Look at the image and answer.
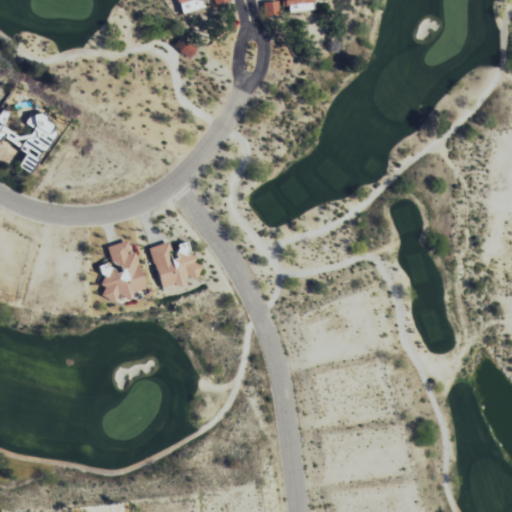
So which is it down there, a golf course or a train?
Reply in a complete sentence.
This aerial view contains a golf course.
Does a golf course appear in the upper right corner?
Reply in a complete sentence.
Yes, a golf course is visible in the upper right corner.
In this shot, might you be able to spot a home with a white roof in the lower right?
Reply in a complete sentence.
No, no home with a white roof can be made out in the lower right.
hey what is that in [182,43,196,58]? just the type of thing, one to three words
gazebo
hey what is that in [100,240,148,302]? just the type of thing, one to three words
house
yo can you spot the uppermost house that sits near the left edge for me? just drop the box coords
[0,110,58,172]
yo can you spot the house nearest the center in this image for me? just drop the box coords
[147,241,204,295]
